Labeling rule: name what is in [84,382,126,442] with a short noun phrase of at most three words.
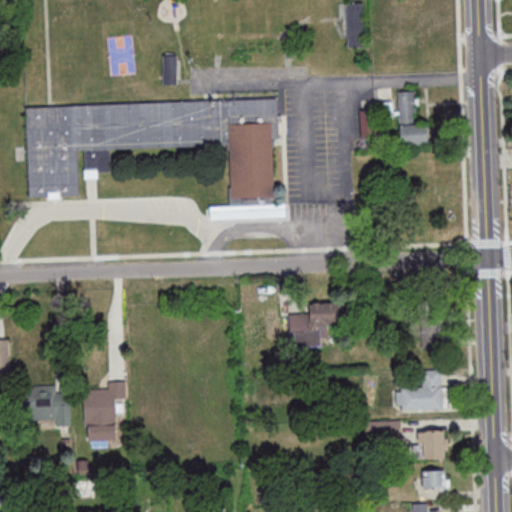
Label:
house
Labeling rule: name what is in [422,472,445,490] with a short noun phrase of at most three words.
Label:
house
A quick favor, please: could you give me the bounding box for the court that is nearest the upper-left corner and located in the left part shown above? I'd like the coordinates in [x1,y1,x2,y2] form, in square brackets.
[107,36,136,78]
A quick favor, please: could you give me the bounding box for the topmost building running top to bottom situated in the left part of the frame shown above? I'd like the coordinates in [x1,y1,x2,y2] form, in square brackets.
[162,56,177,85]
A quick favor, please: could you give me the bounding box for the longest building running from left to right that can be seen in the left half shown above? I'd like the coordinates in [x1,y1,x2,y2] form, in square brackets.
[26,98,286,221]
